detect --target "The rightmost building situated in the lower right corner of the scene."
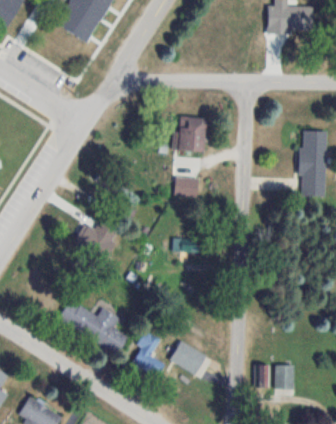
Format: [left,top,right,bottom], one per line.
[274,366,296,390]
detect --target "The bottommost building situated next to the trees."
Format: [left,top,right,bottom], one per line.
[20,398,62,424]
